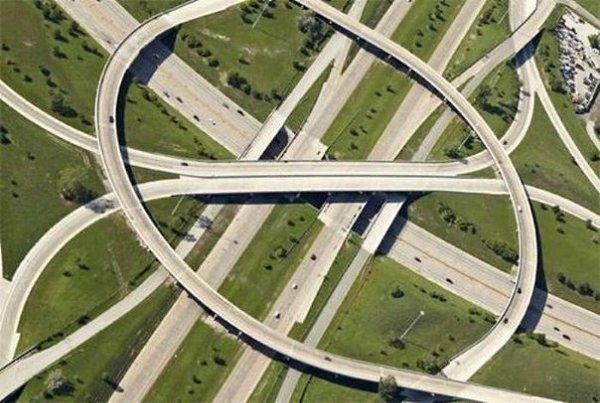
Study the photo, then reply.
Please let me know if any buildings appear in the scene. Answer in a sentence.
No, no building is visible in the scene.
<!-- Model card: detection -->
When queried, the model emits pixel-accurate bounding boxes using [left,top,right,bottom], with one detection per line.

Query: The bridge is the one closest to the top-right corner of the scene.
[479,0,556,75]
